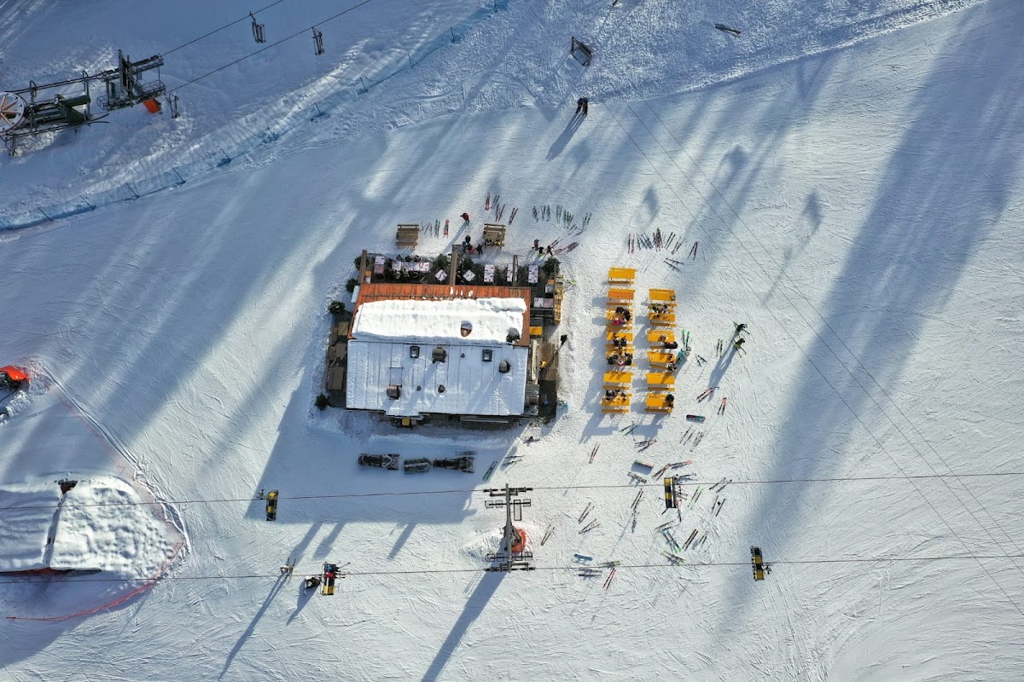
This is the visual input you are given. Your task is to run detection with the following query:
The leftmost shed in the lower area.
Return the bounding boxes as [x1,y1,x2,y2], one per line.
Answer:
[0,477,178,574]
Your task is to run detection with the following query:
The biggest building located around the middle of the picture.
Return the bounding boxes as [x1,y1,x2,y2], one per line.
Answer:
[346,283,532,422]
